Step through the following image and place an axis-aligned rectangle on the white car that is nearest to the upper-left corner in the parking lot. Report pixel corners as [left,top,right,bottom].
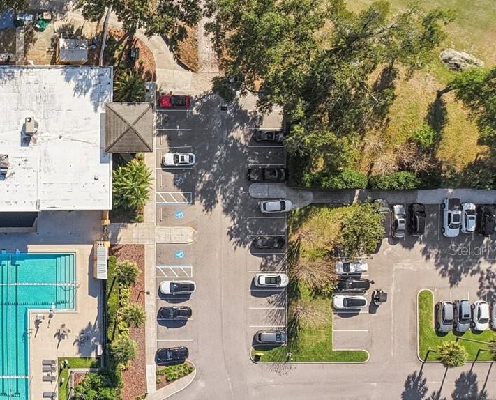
[161,151,195,167]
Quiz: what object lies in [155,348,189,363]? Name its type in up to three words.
car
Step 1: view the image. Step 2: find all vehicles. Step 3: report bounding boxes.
[488,301,496,330]
[245,166,287,183]
[157,93,190,109]
[252,274,287,289]
[475,204,495,235]
[367,291,389,303]
[330,294,366,311]
[252,330,286,347]
[155,348,189,363]
[161,151,195,167]
[256,198,292,215]
[470,300,491,331]
[440,197,462,238]
[157,306,191,319]
[435,300,455,332]
[407,203,426,235]
[451,300,472,332]
[459,203,476,233]
[388,205,409,238]
[251,235,285,251]
[159,280,195,296]
[335,277,372,293]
